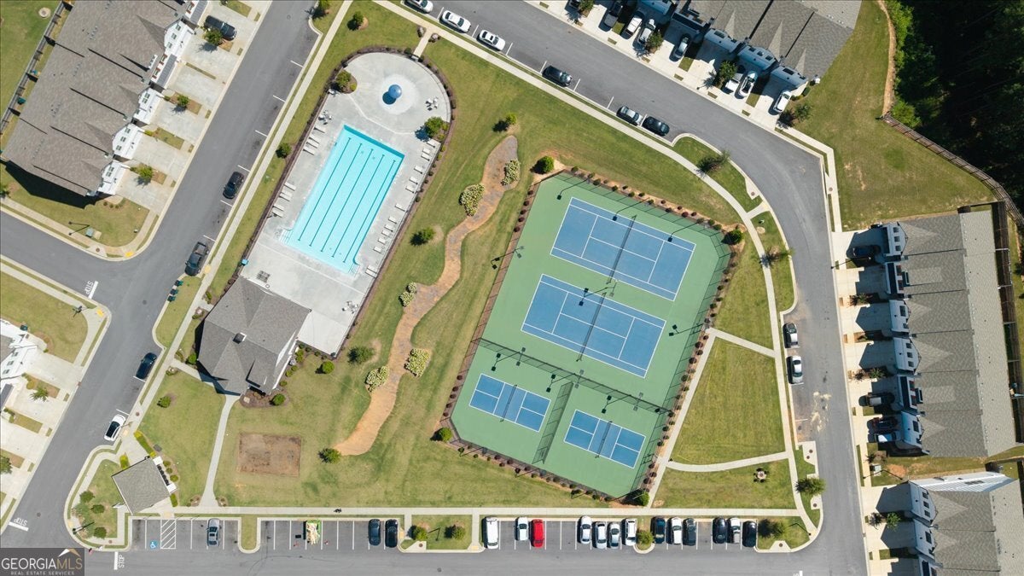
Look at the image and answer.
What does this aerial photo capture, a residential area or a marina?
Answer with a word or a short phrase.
residential area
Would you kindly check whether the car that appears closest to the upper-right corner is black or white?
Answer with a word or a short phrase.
white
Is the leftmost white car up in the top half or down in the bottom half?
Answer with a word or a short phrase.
bottom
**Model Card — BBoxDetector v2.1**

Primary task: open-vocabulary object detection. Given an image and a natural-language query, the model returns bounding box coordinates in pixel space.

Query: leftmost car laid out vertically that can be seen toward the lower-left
[207,517,221,546]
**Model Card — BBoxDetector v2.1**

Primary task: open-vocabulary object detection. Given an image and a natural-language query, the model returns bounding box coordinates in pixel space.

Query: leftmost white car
[104,414,127,441]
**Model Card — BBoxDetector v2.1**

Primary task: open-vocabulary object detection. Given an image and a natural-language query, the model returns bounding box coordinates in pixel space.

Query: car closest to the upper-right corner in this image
[772,87,792,115]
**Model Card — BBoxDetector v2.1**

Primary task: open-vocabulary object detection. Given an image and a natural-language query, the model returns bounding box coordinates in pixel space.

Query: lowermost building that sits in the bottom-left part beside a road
[112,456,174,515]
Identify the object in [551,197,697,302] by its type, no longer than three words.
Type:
tennis court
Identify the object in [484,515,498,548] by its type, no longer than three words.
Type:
vehicle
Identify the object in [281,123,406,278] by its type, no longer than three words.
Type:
swimming pool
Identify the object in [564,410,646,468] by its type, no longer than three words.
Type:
sports court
